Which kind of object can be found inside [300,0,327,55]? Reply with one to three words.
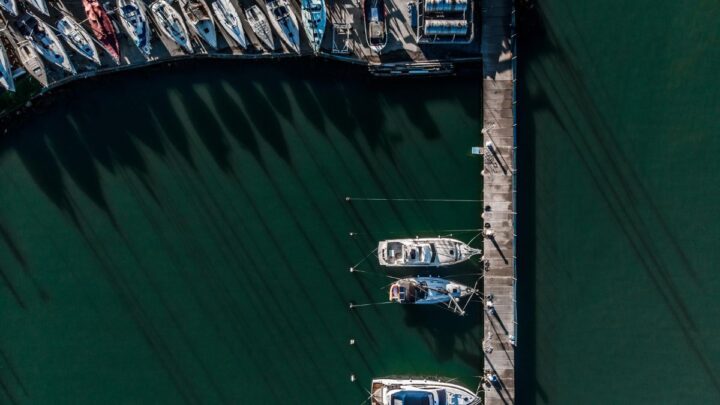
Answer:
boat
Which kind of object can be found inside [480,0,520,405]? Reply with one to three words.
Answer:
pier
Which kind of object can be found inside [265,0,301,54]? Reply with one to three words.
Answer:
boat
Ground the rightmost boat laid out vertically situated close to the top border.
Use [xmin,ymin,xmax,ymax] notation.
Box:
[363,0,387,52]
